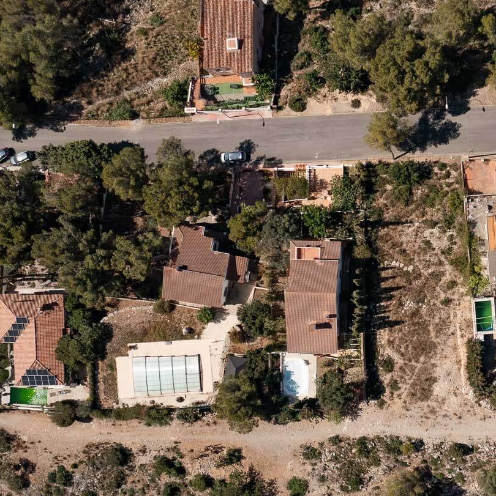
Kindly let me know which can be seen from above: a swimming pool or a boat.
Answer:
swimming pool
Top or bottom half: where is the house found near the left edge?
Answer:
bottom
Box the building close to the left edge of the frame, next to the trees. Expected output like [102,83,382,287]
[0,293,73,387]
